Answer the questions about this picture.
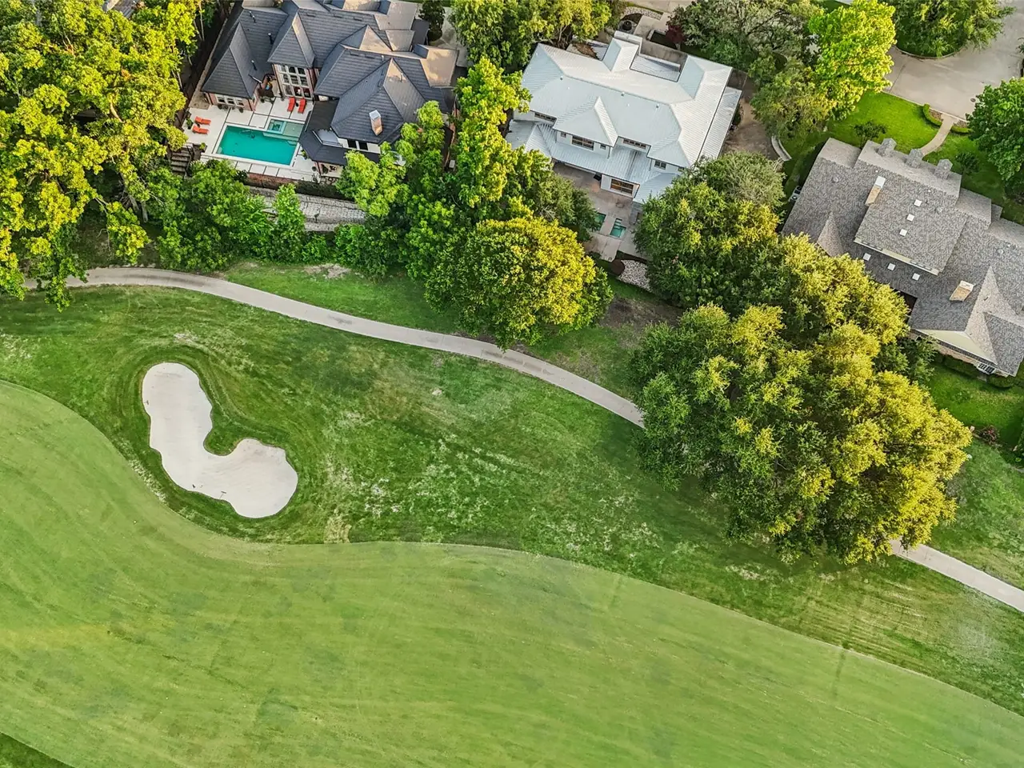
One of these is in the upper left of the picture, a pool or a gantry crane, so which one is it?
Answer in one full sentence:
Looking in the upper left of the picture, you will find a pool.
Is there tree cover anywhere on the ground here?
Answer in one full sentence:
Yes, some tree cover is visible.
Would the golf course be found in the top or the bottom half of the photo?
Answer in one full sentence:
Seen from above, the golf course lies in the bottom half of the view.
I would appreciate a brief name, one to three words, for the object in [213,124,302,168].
swimming pool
